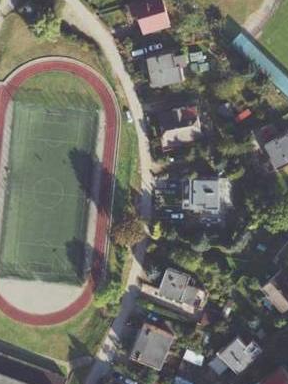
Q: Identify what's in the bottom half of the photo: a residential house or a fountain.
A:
residential house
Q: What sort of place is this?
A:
sports ground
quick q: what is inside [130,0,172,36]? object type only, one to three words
house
